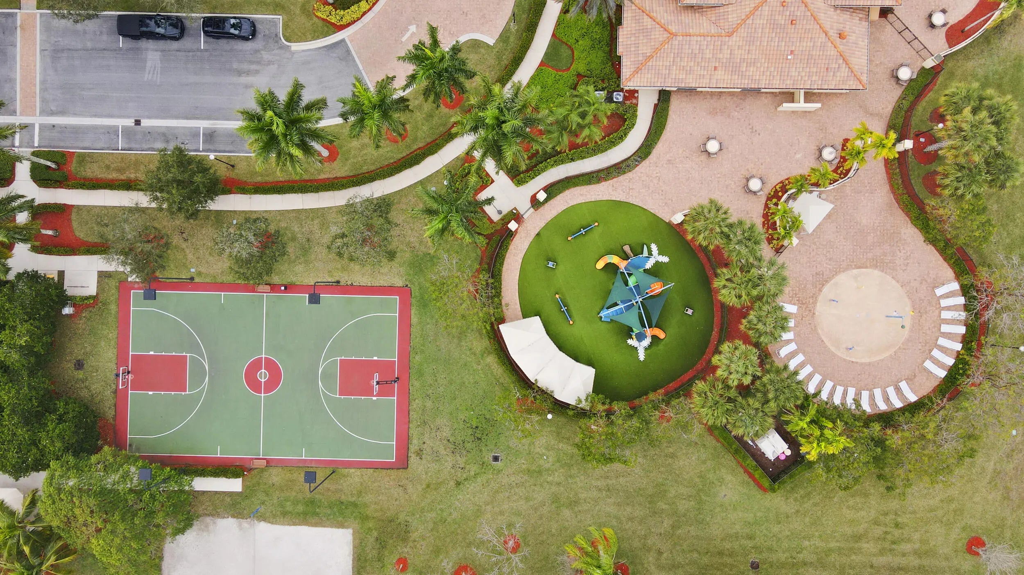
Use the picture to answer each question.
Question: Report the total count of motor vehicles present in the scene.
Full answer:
My tally gives 2 motor vehicles in this view.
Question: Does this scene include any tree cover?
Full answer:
Yes, the picture does contain tree cover.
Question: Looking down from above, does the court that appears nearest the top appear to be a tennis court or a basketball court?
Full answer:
I'd identify the court that appears nearest the top as a basketball court.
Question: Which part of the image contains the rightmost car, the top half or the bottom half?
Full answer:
You can find the rightmost car in the top half.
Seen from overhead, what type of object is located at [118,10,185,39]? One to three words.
truck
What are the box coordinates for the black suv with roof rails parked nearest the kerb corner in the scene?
[202,13,257,40]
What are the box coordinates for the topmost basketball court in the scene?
[115,281,411,469]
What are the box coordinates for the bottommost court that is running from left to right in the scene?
[163,506,352,575]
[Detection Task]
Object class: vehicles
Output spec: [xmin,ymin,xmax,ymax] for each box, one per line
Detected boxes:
[118,10,185,39]
[202,13,257,40]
